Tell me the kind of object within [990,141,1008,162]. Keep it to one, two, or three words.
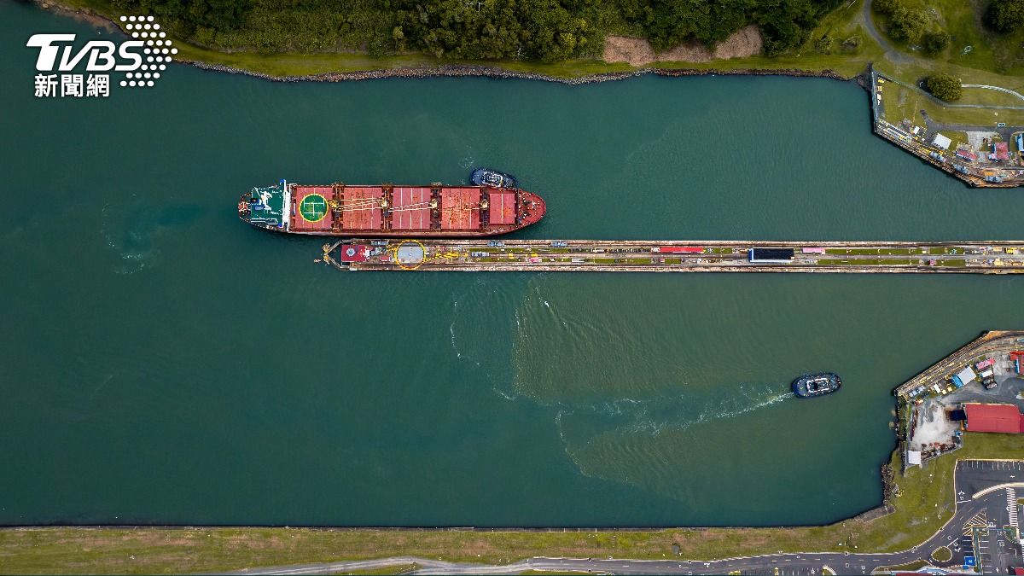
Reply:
building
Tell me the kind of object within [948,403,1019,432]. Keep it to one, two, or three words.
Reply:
building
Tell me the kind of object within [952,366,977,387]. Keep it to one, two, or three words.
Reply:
shed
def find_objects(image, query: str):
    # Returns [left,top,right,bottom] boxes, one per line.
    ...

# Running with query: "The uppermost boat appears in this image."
[470,167,518,187]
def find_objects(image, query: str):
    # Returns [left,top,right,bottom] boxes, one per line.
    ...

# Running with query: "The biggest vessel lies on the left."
[237,179,547,237]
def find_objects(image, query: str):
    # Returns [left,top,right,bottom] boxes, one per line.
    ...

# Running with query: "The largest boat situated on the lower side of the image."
[792,374,841,396]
